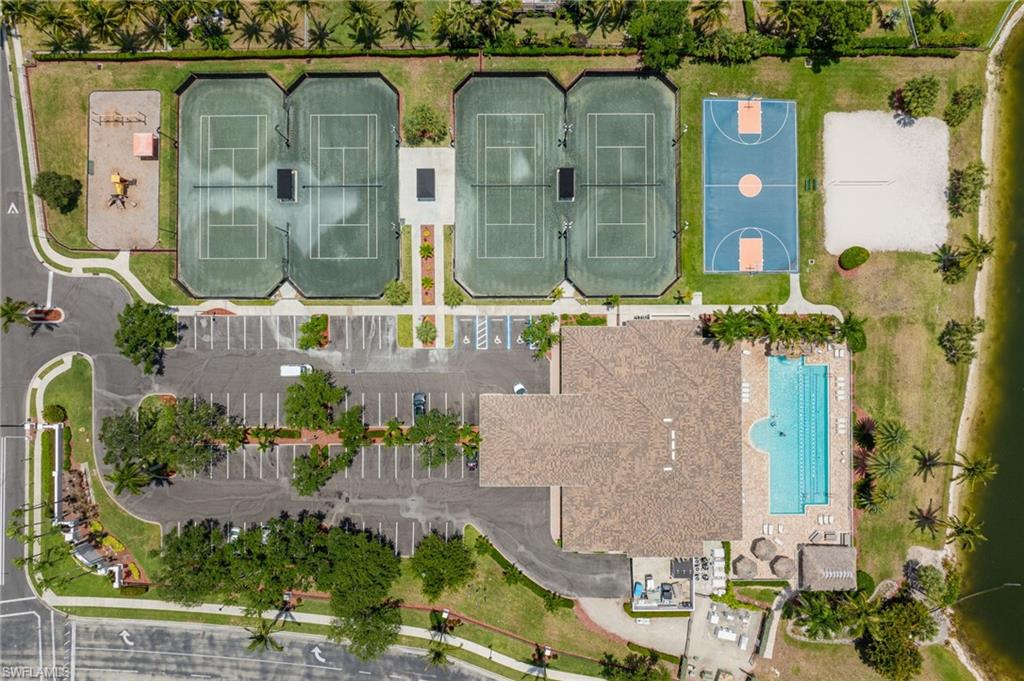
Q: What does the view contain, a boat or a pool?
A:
pool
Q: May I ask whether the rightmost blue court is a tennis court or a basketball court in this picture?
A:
basketball court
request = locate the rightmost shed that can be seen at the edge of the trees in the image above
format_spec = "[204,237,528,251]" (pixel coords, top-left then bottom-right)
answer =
[795,542,858,591]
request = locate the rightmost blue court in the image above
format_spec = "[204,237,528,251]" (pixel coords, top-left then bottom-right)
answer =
[704,99,799,273]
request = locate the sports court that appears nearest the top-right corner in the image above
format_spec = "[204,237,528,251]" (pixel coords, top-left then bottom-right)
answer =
[823,110,949,255]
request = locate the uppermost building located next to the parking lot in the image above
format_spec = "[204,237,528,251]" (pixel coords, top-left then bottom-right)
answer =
[479,320,742,559]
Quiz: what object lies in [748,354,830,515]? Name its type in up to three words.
swimming pool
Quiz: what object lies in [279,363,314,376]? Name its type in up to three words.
vehicle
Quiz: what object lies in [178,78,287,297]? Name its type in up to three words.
tennis court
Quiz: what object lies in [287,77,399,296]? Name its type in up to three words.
tennis court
